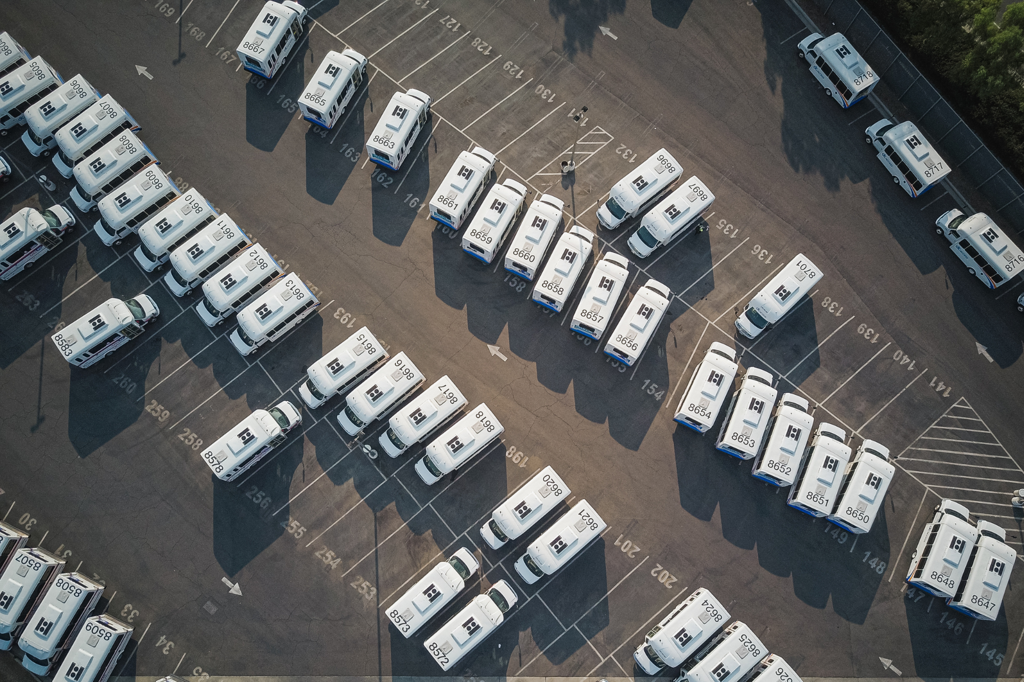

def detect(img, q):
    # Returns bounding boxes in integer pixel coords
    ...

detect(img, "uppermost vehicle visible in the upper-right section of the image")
[797,25,880,112]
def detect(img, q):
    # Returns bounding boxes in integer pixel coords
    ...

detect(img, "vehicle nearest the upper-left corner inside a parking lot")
[0,31,31,78]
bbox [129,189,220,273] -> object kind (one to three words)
vehicle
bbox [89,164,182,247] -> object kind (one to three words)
vehicle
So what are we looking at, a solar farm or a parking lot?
parking lot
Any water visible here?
No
